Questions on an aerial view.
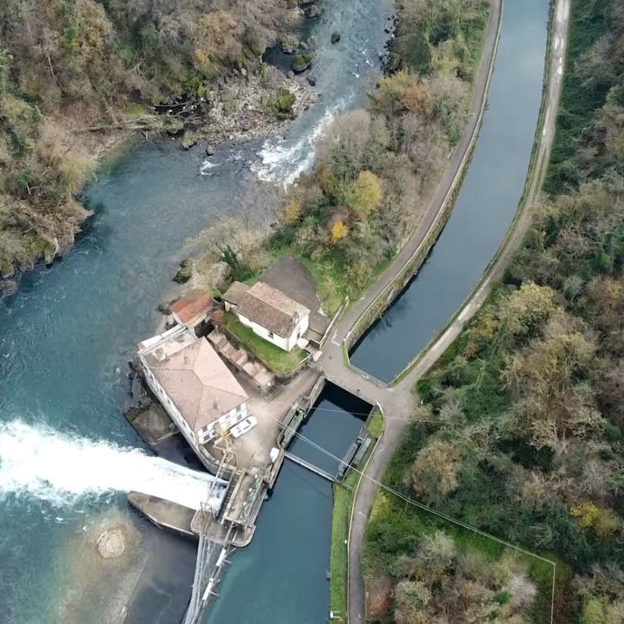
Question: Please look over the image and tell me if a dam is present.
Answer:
Yes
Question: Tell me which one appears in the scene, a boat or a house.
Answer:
house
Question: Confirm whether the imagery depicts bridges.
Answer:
Yes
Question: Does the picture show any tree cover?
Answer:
Yes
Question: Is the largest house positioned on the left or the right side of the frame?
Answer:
left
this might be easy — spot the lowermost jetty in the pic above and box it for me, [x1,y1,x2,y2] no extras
[128,490,199,539]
